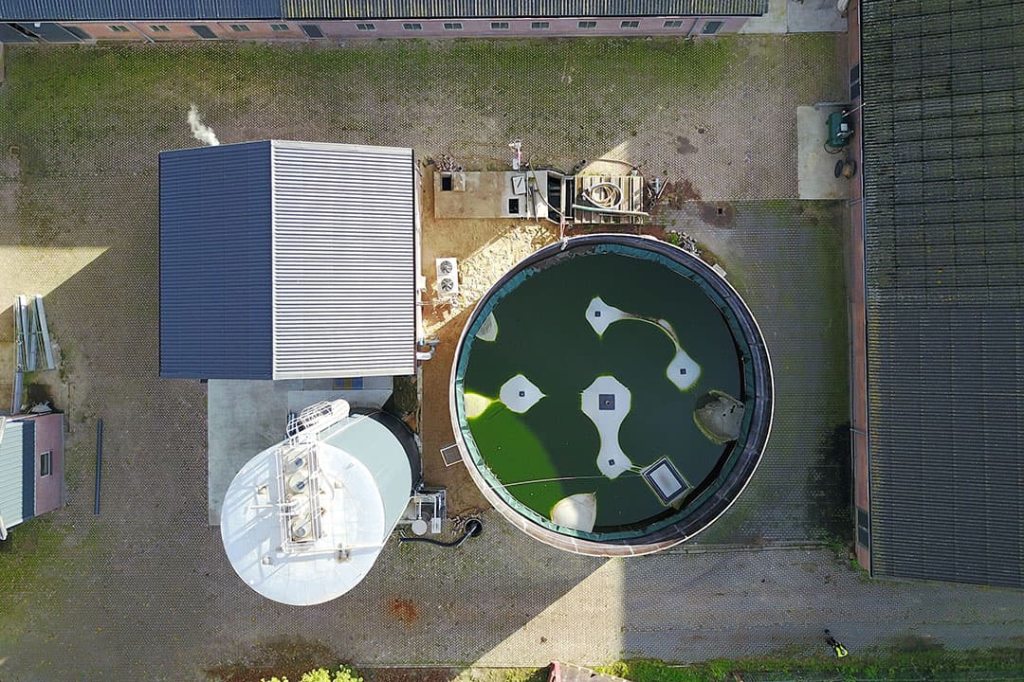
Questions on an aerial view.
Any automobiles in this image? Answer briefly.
No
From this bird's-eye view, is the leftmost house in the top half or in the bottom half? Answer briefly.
bottom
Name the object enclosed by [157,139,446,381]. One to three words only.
shed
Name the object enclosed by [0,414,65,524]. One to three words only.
house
